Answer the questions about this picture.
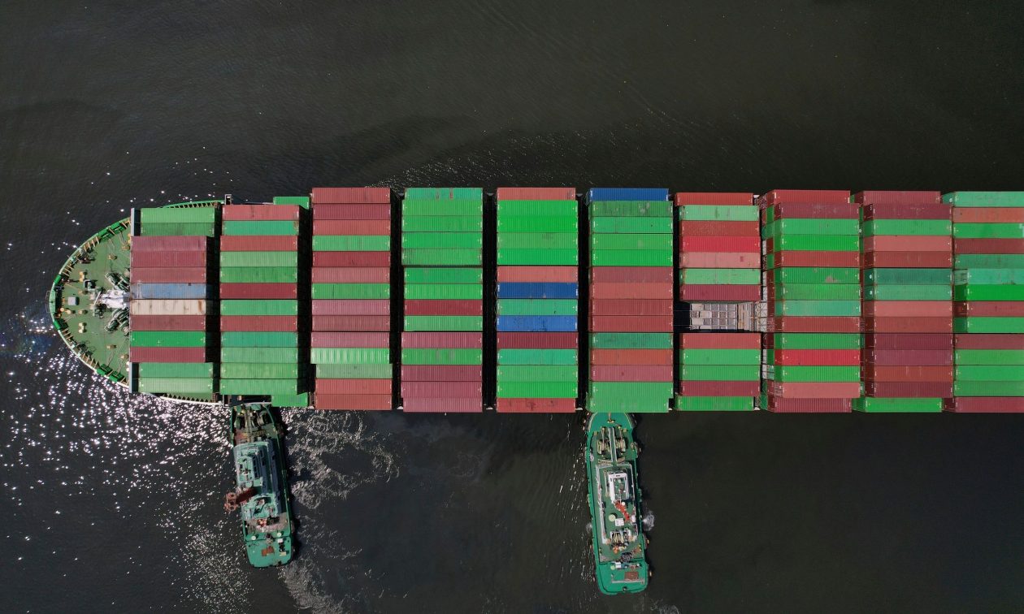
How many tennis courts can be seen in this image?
zero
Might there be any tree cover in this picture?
No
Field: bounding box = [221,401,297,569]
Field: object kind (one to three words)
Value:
boat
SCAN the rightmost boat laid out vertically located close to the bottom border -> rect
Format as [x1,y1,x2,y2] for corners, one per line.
[582,408,648,595]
